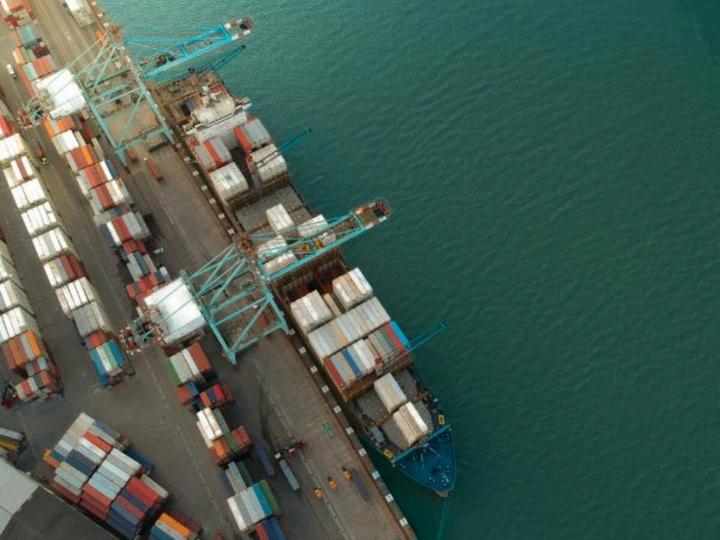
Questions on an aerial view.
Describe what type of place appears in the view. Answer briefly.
port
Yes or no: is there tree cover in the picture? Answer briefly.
No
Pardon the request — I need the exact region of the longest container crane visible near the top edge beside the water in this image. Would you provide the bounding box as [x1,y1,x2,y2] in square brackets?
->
[17,18,259,169]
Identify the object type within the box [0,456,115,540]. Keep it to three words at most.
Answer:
shed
